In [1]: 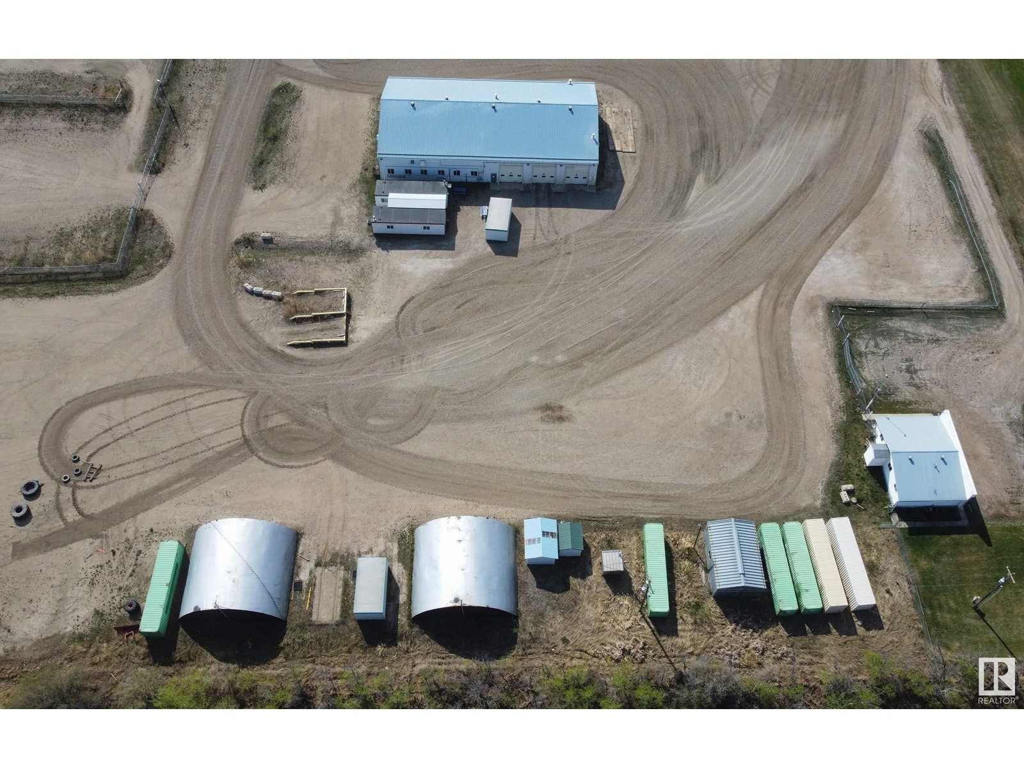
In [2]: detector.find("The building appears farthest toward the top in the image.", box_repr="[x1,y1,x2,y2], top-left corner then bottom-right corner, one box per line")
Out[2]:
[376,76,599,188]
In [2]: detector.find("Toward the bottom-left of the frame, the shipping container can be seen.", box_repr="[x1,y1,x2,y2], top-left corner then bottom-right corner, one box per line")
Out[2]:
[139,540,183,637]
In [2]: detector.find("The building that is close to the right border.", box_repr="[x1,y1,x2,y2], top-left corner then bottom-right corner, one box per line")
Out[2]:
[855,406,976,512]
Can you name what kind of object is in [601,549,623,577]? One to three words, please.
shed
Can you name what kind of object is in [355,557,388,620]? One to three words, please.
shed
